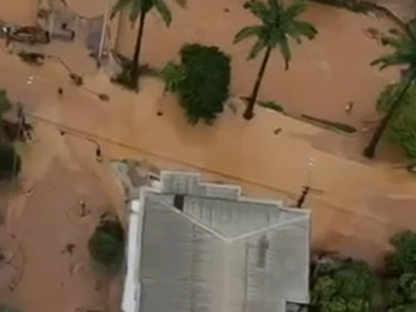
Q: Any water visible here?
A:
Yes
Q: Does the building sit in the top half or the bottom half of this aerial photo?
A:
bottom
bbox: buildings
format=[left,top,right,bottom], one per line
[123,169,314,312]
